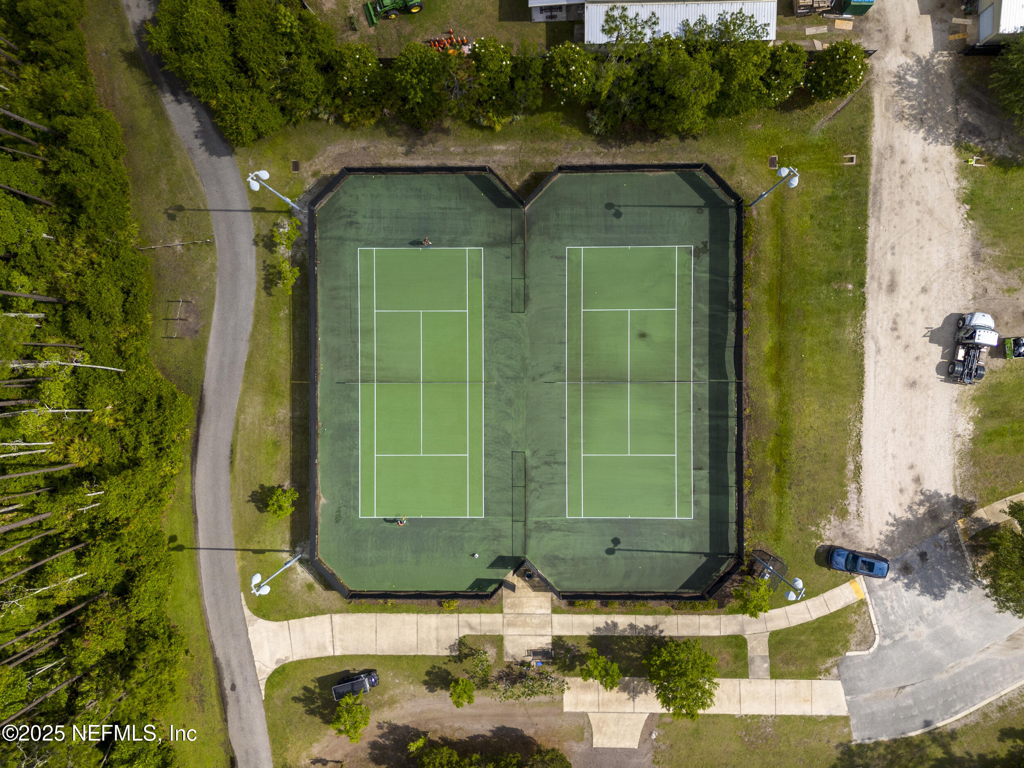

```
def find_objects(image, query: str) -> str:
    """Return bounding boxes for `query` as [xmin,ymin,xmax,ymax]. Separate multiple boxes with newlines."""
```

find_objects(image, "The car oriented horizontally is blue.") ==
[825,549,893,579]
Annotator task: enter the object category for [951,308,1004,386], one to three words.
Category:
truck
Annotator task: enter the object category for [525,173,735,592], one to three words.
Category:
tennis court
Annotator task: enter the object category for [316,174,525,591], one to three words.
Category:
tennis court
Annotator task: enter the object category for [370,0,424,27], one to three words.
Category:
work vehicle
